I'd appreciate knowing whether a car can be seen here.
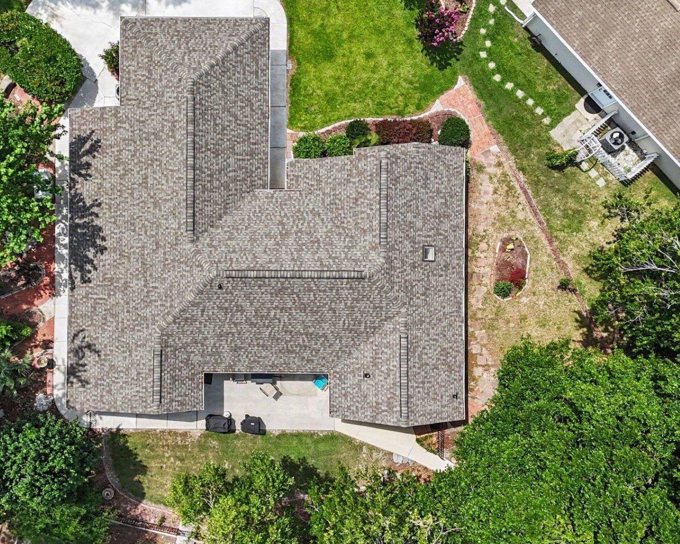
No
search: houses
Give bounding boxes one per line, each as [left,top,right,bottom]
[513,0,680,186]
[66,17,465,428]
